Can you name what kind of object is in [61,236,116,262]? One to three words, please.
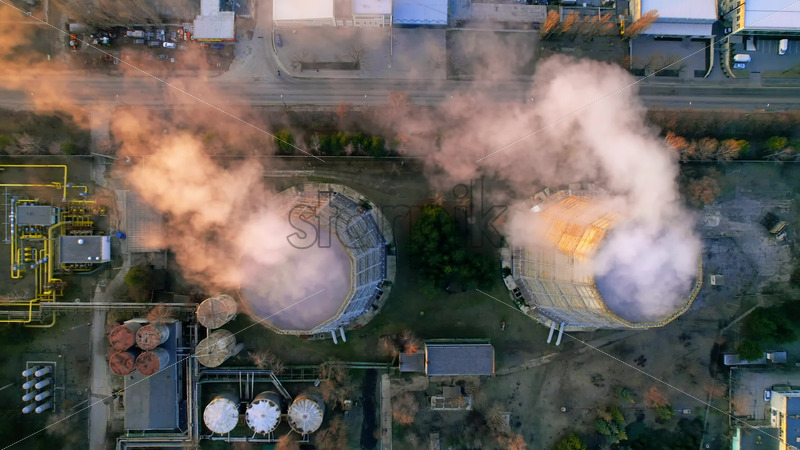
house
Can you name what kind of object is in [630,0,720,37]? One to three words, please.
building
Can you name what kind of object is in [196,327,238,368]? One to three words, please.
storage tank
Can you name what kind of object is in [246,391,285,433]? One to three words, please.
storage tank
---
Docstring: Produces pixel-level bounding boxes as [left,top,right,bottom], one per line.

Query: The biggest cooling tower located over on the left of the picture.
[234,177,401,348]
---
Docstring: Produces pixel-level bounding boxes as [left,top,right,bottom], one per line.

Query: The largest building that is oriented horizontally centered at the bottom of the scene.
[427,343,494,374]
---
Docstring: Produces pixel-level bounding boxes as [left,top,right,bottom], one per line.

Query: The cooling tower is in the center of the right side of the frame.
[502,175,708,349]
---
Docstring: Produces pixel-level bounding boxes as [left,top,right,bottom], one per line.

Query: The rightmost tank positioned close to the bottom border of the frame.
[288,391,326,433]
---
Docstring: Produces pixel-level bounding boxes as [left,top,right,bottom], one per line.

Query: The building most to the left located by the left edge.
[18,205,59,224]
